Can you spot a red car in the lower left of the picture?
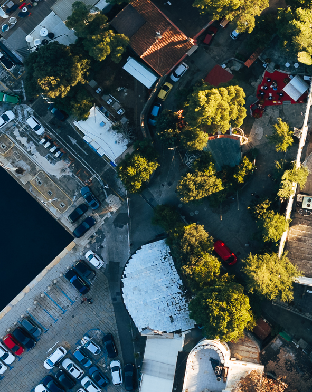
Yes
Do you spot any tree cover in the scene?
Yes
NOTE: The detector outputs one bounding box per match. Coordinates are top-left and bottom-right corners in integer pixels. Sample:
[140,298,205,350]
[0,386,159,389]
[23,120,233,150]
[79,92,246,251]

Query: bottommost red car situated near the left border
[0,334,24,357]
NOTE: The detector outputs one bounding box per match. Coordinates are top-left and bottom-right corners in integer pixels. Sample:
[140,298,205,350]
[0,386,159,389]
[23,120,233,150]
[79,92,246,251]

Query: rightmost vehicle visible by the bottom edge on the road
[119,364,136,392]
